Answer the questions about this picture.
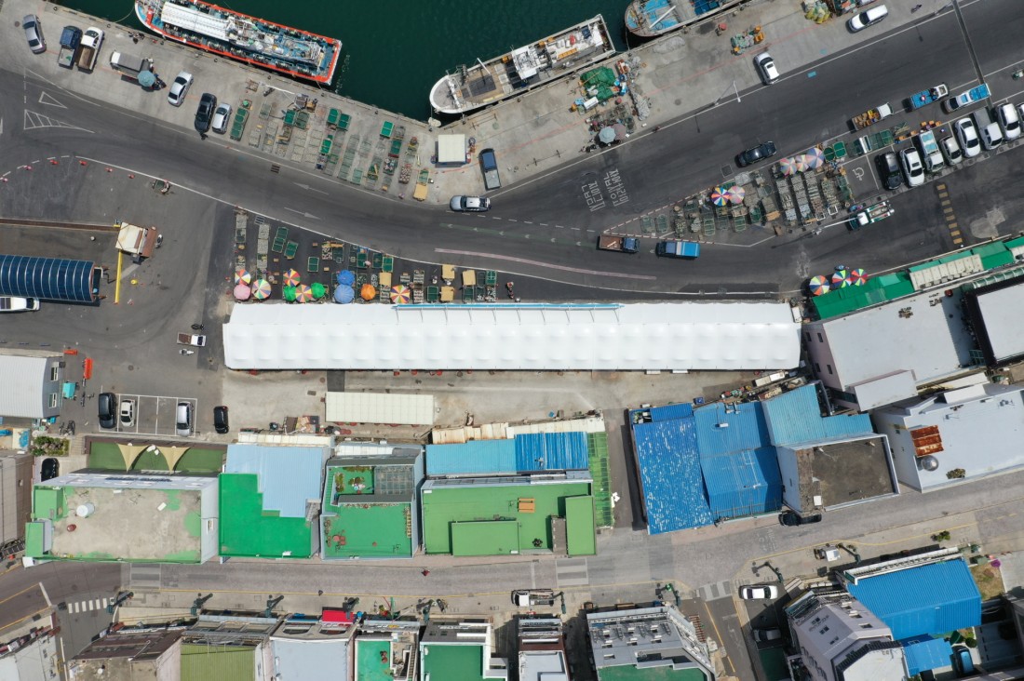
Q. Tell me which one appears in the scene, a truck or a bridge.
truck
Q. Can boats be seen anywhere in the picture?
Yes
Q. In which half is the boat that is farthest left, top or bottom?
top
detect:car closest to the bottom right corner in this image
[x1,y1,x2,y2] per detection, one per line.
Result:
[950,643,977,676]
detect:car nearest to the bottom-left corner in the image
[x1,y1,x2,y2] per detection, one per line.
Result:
[40,456,61,483]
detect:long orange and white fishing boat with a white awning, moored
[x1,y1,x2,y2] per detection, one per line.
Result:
[135,0,342,89]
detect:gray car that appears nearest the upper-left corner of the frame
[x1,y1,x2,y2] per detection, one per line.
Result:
[23,14,49,55]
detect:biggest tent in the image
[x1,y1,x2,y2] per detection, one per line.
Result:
[223,302,800,371]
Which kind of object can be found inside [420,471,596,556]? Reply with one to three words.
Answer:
building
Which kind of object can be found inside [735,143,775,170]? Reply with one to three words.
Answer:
car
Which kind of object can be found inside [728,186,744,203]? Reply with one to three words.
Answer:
umbrella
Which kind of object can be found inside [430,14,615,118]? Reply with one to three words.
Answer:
boat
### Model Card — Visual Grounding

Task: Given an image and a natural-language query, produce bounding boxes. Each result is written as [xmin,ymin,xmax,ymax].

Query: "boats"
[135,0,342,89]
[624,0,747,43]
[430,14,615,118]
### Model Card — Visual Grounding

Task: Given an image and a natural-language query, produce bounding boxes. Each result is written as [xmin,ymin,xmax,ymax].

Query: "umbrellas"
[283,287,297,301]
[809,275,829,295]
[296,286,312,302]
[312,283,326,297]
[391,285,410,302]
[795,156,810,172]
[831,269,851,288]
[284,269,301,286]
[779,158,796,175]
[234,284,251,301]
[236,270,251,285]
[712,188,730,207]
[138,69,157,87]
[361,285,376,300]
[335,285,355,302]
[806,149,824,168]
[984,557,1000,568]
[598,126,616,144]
[252,279,271,298]
[338,269,355,286]
[612,124,627,141]
[728,186,744,203]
